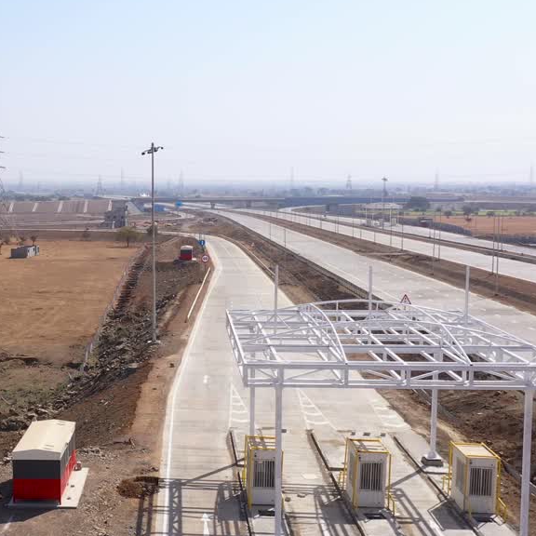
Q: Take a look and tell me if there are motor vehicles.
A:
No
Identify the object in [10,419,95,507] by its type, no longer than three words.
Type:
building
